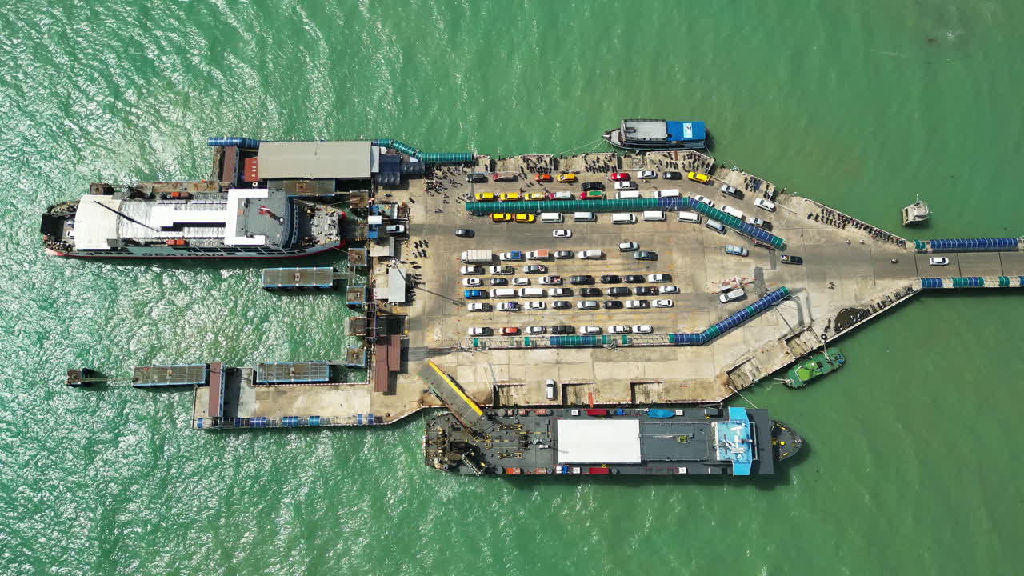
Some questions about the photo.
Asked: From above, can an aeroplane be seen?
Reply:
No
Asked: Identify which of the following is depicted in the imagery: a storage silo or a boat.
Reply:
boat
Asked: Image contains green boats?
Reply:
Yes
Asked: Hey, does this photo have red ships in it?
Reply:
No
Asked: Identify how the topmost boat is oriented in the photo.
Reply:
from left to right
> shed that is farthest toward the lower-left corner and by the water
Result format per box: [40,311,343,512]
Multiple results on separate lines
[209,362,230,417]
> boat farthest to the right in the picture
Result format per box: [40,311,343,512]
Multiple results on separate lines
[781,345,846,391]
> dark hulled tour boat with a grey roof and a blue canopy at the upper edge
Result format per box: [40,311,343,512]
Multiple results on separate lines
[602,119,708,150]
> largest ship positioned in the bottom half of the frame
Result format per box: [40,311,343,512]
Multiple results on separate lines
[423,404,804,476]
